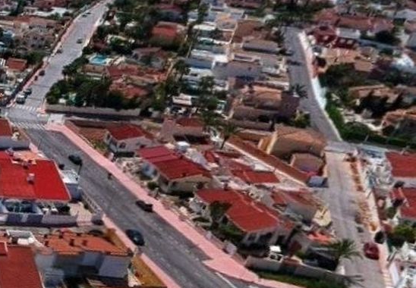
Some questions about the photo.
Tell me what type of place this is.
residential area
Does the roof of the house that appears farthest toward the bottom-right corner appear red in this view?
Yes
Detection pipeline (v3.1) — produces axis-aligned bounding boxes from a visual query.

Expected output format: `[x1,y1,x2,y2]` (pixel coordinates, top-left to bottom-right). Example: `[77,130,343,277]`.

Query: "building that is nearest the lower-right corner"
[363,183,416,236]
